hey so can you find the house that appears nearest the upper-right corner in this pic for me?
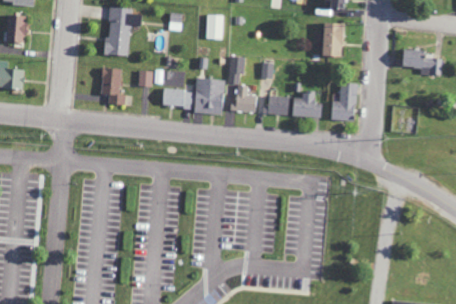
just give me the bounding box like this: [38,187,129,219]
[403,46,436,76]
